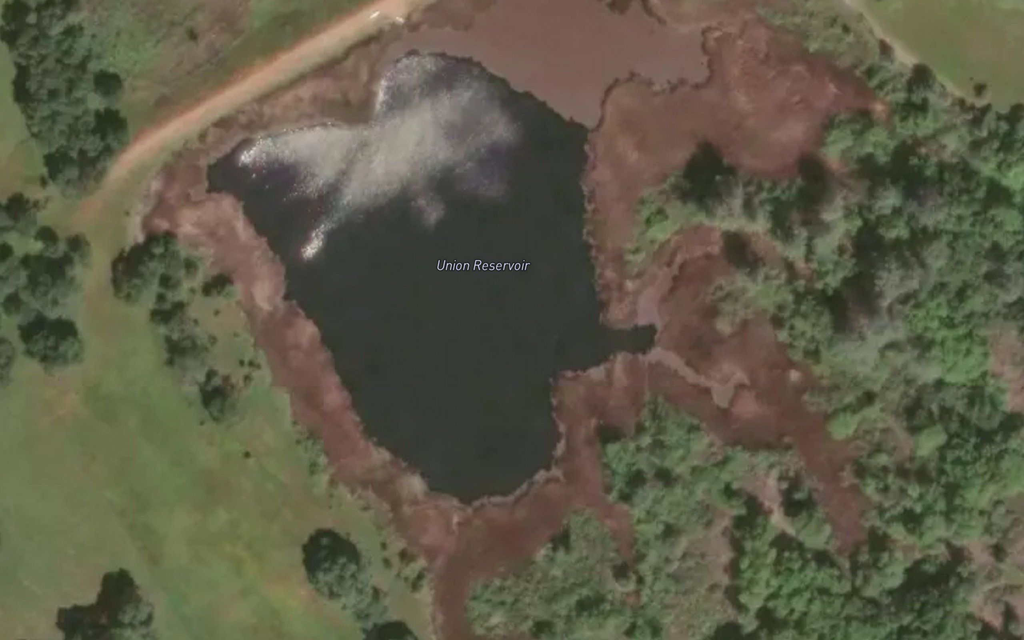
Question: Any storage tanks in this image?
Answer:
No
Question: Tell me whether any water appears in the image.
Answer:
Yes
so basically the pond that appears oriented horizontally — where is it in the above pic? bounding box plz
[381,0,710,133]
